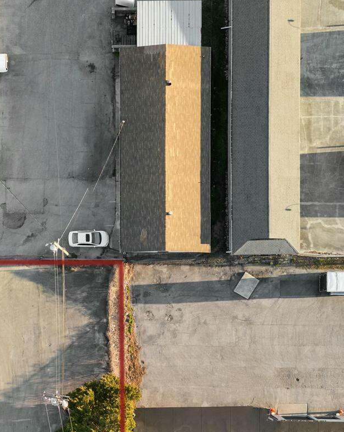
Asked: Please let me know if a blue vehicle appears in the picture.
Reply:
No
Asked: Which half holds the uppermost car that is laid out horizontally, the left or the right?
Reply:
left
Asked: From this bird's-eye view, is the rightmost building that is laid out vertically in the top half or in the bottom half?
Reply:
top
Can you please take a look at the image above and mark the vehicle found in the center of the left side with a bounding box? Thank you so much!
[67,229,108,249]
